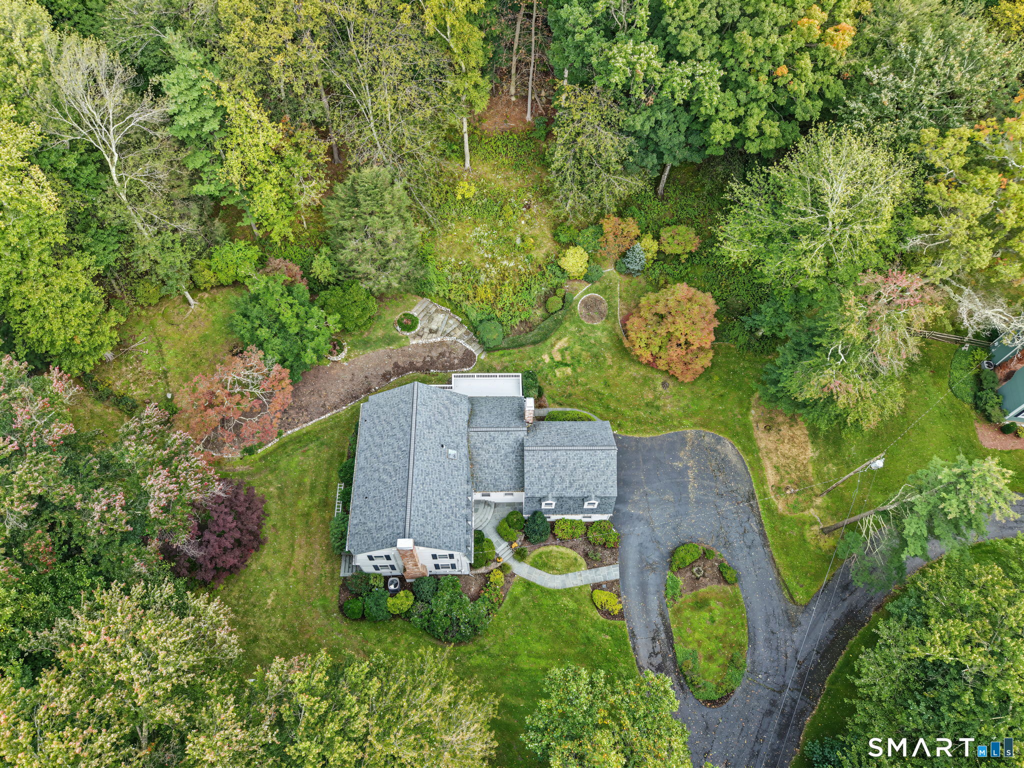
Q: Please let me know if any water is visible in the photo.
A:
No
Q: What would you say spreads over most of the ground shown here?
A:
trees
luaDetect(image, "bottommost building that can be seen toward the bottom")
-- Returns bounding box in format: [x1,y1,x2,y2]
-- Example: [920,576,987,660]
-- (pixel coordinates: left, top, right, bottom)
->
[344,380,618,589]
